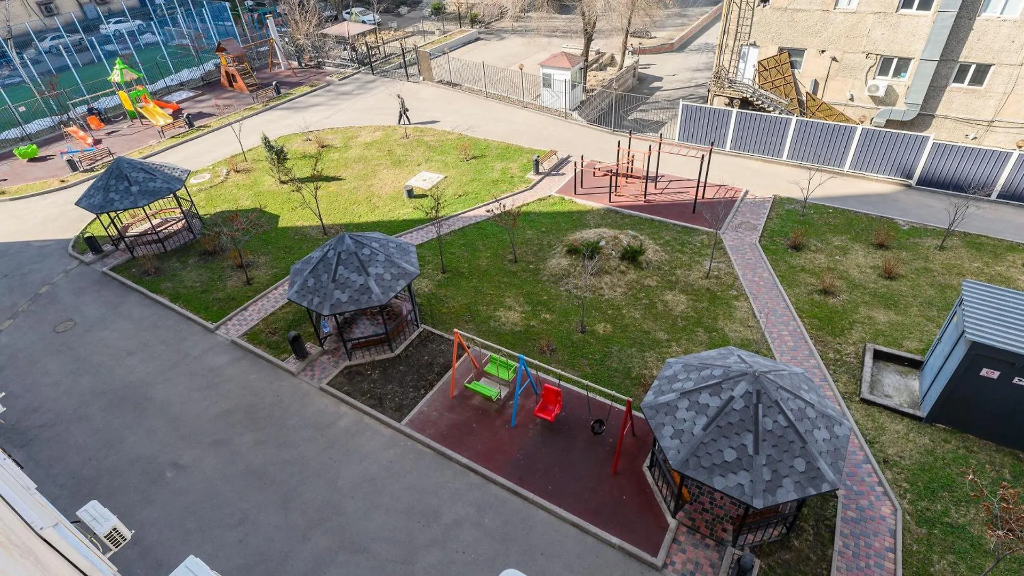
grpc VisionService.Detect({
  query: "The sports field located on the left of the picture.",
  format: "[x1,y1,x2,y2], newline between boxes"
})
[0,43,240,129]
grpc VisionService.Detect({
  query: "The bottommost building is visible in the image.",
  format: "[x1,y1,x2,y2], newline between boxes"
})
[0,452,117,576]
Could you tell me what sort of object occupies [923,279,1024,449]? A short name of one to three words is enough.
shed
